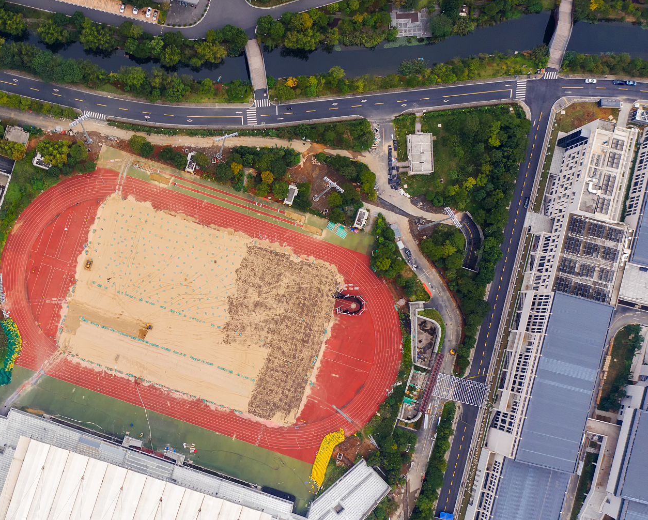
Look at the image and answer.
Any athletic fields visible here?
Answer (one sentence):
Yes, the picture does show an athletic field.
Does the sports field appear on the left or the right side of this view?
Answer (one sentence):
The sports field is on the left side of the image.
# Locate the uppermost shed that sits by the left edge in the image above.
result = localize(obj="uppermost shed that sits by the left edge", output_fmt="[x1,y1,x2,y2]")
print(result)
[5,125,31,148]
